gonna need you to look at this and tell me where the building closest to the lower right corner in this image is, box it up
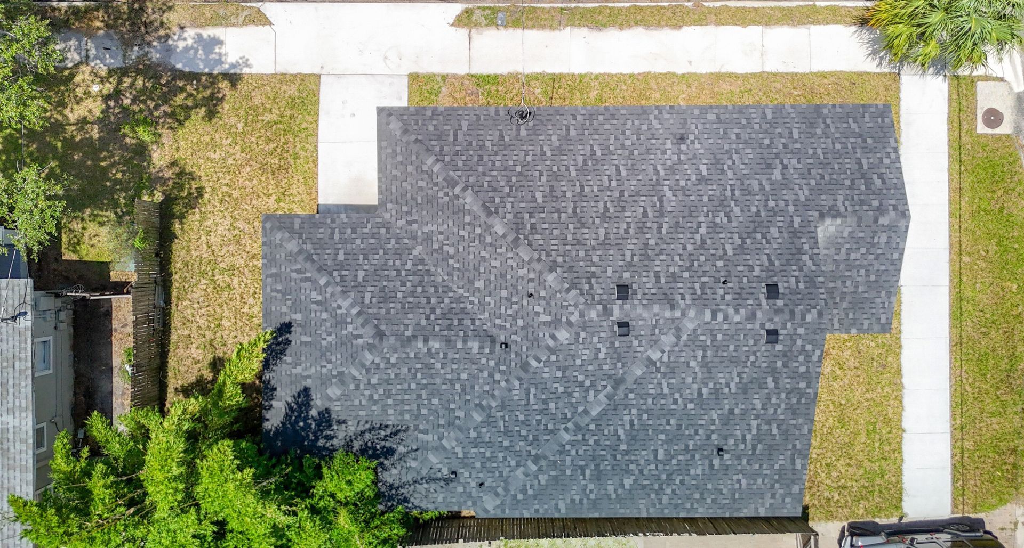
[262,106,909,518]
